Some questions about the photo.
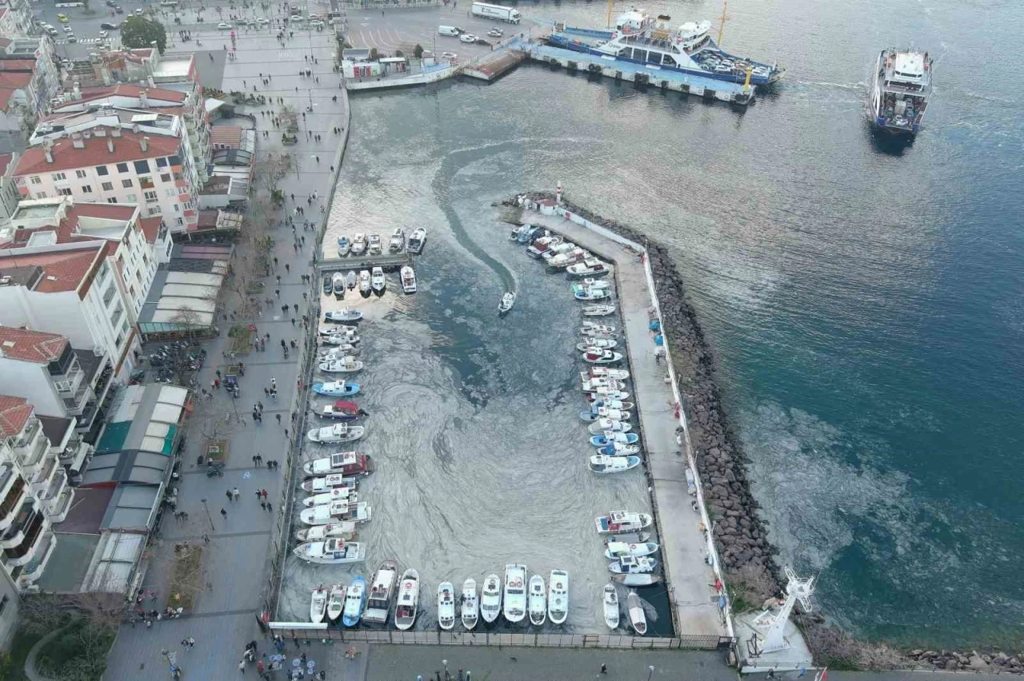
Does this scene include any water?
Yes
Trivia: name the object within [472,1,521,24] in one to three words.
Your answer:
truck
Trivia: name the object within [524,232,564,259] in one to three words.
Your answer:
boat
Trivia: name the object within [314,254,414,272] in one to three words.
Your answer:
pier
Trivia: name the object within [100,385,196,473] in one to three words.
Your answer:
building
